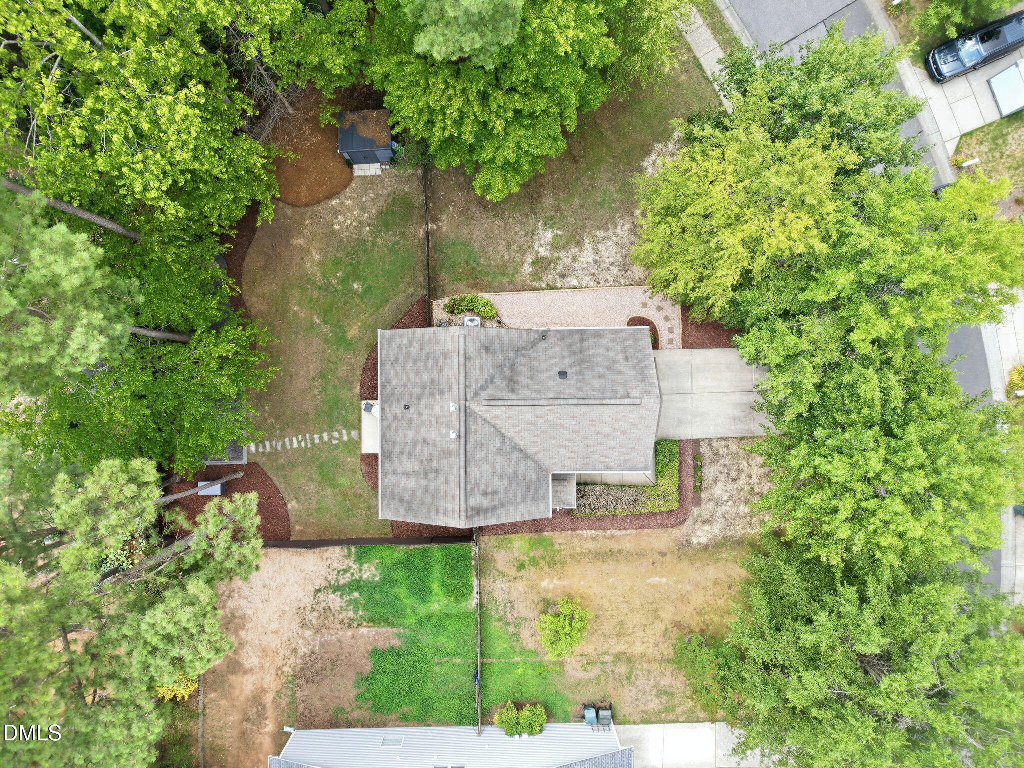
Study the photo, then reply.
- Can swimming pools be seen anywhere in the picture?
No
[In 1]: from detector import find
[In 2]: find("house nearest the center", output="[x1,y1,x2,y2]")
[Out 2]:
[379,325,662,528]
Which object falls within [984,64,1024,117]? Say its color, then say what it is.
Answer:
white trailer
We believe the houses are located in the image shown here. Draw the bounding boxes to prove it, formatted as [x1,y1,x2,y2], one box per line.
[379,325,662,528]
[267,723,632,768]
